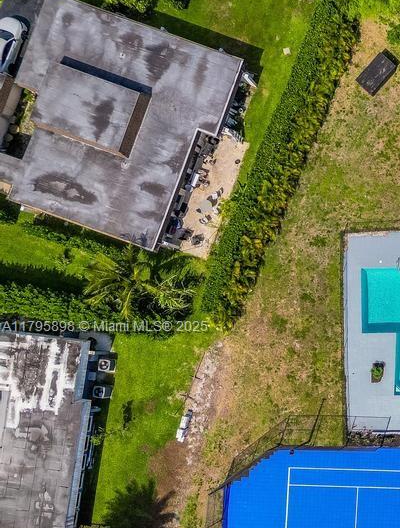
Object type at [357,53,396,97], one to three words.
shed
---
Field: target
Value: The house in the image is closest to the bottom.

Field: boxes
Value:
[0,334,99,528]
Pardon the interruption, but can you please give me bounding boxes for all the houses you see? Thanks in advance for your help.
[0,334,99,528]
[0,0,245,251]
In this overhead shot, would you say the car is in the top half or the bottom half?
top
